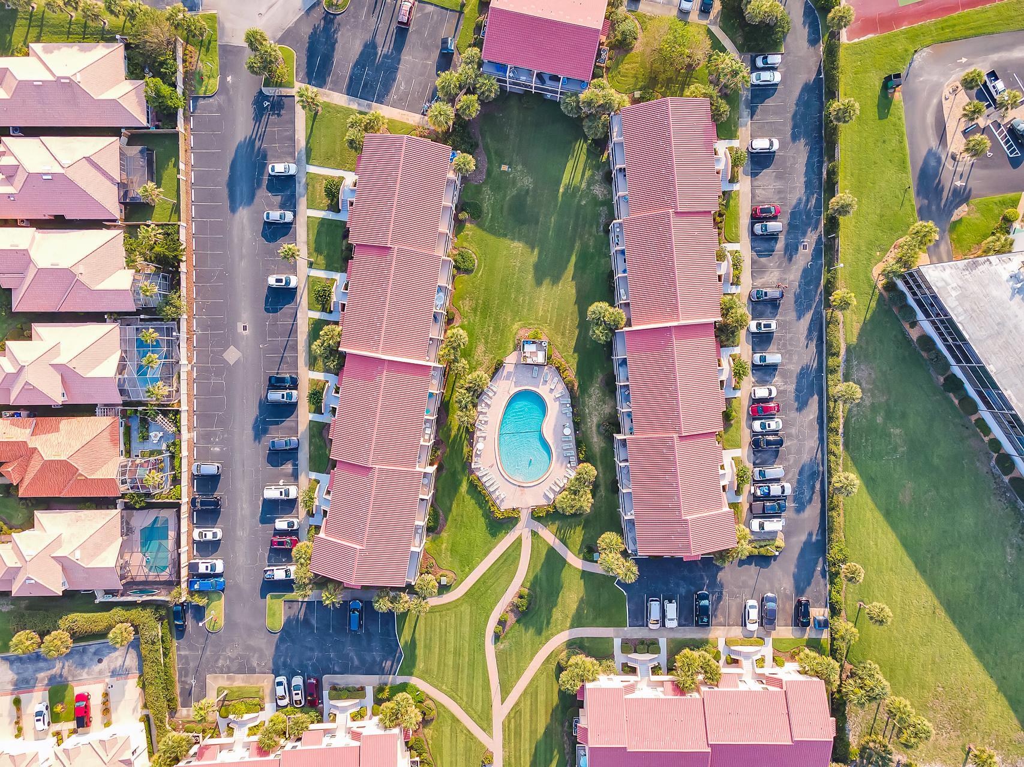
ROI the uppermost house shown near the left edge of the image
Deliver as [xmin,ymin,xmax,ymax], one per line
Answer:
[0,42,152,130]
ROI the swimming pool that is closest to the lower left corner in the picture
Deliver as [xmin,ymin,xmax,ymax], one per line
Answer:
[139,516,169,573]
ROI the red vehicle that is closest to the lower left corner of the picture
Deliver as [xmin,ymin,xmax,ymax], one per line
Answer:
[75,691,93,724]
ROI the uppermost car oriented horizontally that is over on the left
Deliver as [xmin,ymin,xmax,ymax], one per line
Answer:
[268,163,299,177]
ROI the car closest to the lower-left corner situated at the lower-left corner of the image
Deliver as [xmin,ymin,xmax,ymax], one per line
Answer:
[34,701,53,732]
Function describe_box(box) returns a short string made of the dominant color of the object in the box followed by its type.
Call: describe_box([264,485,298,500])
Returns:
white car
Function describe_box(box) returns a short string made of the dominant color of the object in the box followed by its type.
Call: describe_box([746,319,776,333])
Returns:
white car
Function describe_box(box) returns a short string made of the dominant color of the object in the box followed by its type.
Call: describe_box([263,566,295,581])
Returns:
white vehicle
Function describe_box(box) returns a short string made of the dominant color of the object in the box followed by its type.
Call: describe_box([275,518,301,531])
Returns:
white vehicle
